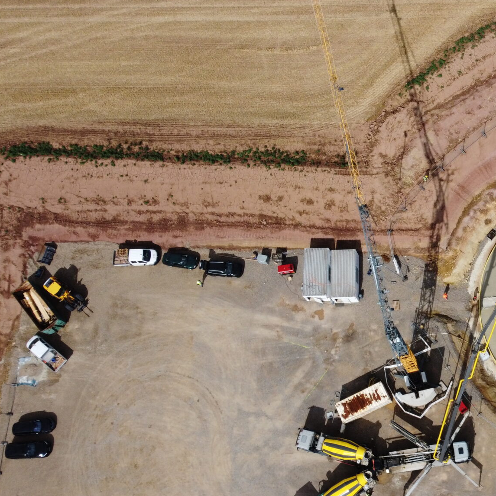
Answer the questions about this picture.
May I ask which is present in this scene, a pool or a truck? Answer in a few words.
truck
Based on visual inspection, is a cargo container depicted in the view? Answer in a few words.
Yes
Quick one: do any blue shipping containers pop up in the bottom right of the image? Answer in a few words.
No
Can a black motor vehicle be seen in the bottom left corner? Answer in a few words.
Yes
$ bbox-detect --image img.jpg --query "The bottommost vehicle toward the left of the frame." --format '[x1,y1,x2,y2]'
[5,439,56,459]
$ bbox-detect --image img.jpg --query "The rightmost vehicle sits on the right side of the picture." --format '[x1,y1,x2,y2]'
[371,303,496,496]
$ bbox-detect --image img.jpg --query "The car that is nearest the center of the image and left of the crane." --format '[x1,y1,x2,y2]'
[198,259,246,278]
